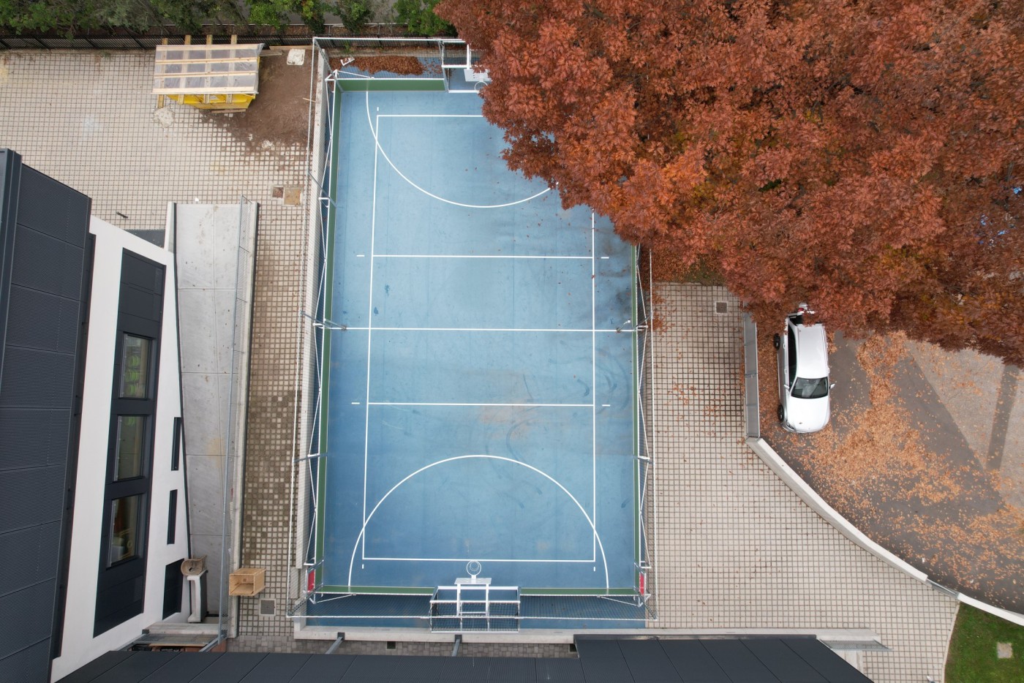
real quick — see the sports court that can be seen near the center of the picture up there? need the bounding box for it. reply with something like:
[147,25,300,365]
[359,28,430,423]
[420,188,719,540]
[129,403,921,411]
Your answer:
[307,56,646,628]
